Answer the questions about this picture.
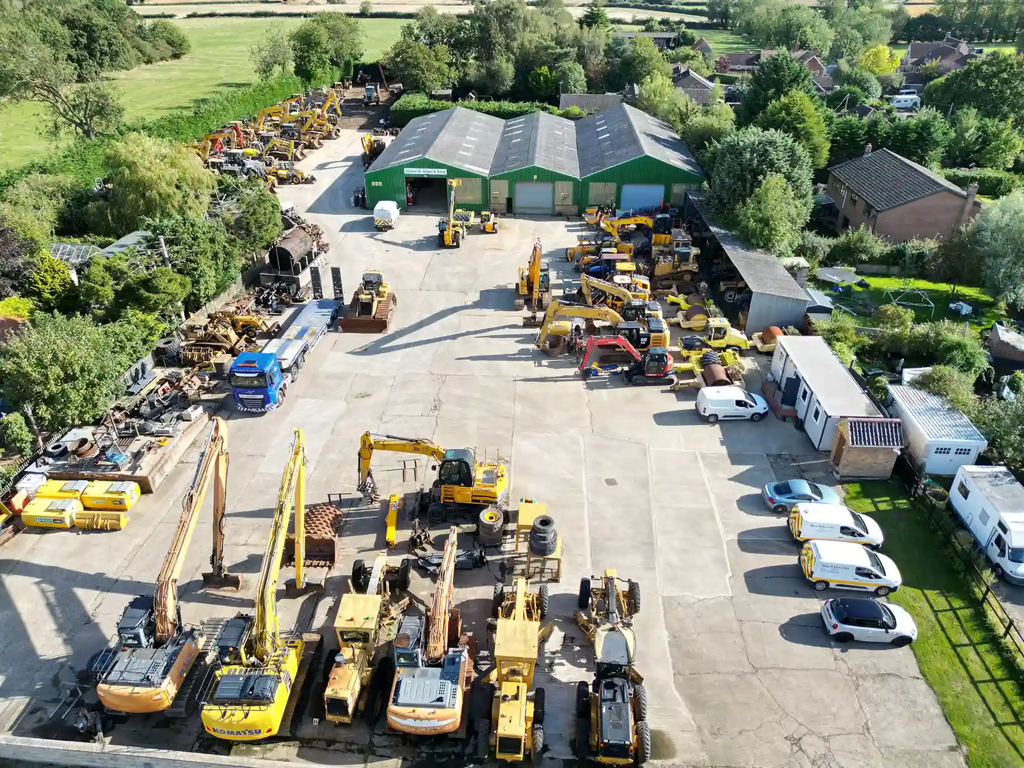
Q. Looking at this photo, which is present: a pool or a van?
van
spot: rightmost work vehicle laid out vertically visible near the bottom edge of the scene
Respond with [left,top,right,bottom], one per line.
[575,567,664,763]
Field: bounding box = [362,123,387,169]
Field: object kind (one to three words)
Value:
work vehicle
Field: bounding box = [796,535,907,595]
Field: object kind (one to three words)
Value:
van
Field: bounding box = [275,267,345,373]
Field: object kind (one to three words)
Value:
vehicle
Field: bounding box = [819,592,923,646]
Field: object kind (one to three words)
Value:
car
